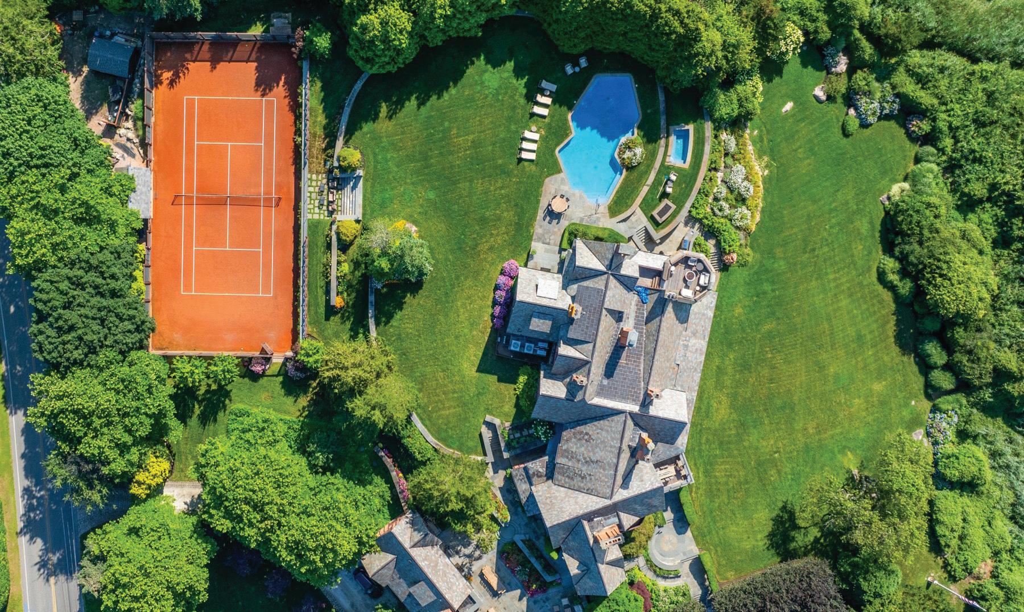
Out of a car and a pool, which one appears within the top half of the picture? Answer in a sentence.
The one visible within the top half of the picture is a pool.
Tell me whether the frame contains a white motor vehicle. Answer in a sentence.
No, the picture doesn't show any white motor vehicle.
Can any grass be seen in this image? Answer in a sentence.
Yes, there is grass in the image.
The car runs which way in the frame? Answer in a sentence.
Seen from above, the car lies at an angle.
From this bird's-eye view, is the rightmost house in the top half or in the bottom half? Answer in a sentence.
You can find the rightmost house in the bottom half.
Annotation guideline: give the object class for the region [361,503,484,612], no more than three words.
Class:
house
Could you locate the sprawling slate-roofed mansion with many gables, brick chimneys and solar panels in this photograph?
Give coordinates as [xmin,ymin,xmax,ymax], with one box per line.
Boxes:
[495,240,717,596]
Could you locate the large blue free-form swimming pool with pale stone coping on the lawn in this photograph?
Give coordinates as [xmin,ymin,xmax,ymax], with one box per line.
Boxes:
[557,71,642,207]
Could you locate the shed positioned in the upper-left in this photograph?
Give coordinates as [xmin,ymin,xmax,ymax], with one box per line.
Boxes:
[88,37,147,81]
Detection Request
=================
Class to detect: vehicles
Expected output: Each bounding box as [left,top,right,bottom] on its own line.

[348,566,384,605]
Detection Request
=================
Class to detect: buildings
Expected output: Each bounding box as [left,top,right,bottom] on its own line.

[495,240,717,596]
[88,37,147,81]
[361,503,484,612]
